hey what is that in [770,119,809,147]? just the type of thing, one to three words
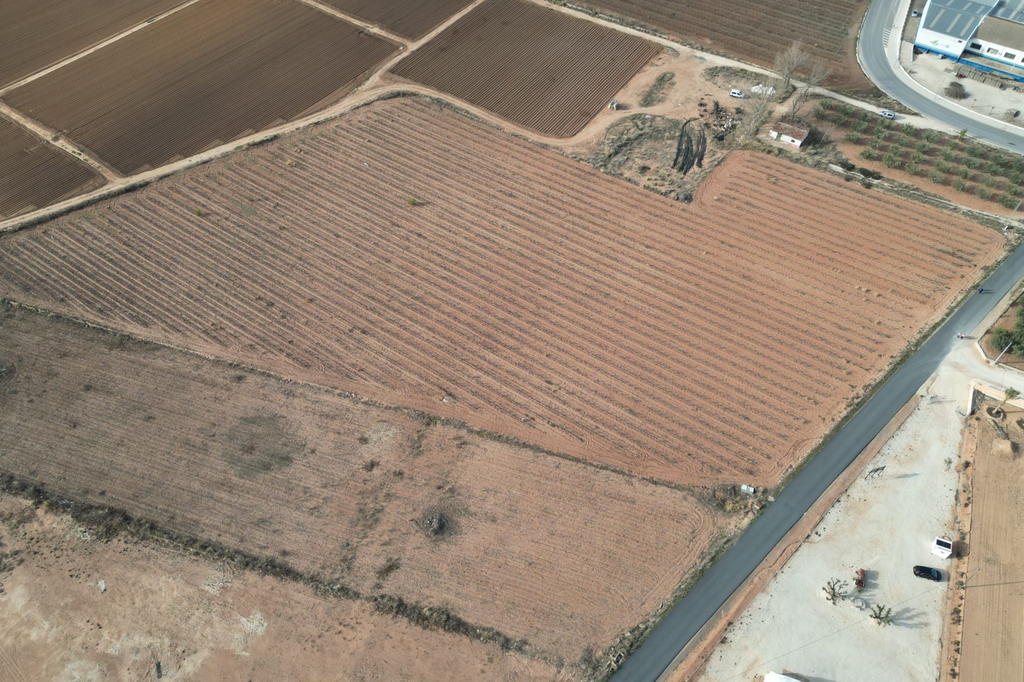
house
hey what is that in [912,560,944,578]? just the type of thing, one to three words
car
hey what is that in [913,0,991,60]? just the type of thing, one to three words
building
